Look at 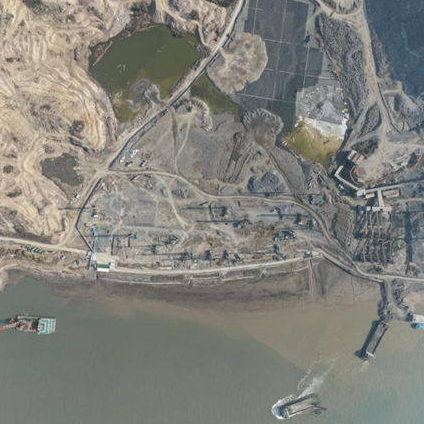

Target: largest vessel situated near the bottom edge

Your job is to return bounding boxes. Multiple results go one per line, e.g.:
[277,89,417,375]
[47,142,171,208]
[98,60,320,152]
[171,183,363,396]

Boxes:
[276,392,325,419]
